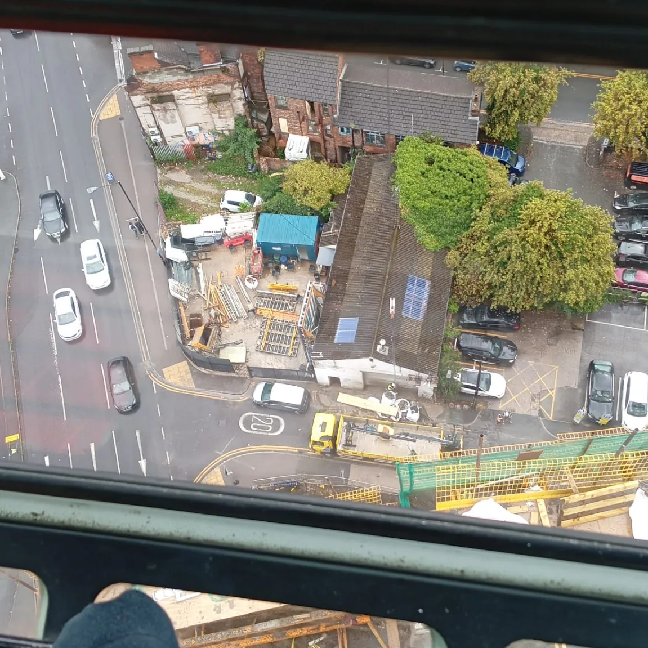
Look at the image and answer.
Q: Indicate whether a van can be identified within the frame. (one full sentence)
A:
Yes, looking at the shot, I can spot a van.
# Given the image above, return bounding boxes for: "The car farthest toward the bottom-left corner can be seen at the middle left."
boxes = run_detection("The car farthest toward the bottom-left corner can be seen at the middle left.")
[104,355,138,415]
